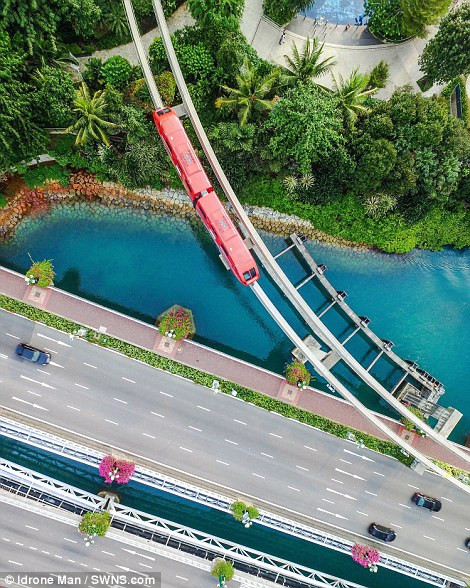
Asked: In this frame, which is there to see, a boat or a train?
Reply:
train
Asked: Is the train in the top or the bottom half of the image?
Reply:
top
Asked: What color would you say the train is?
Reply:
red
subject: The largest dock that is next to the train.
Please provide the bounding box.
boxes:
[273,233,448,396]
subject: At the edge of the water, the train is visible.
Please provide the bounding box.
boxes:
[155,107,257,287]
